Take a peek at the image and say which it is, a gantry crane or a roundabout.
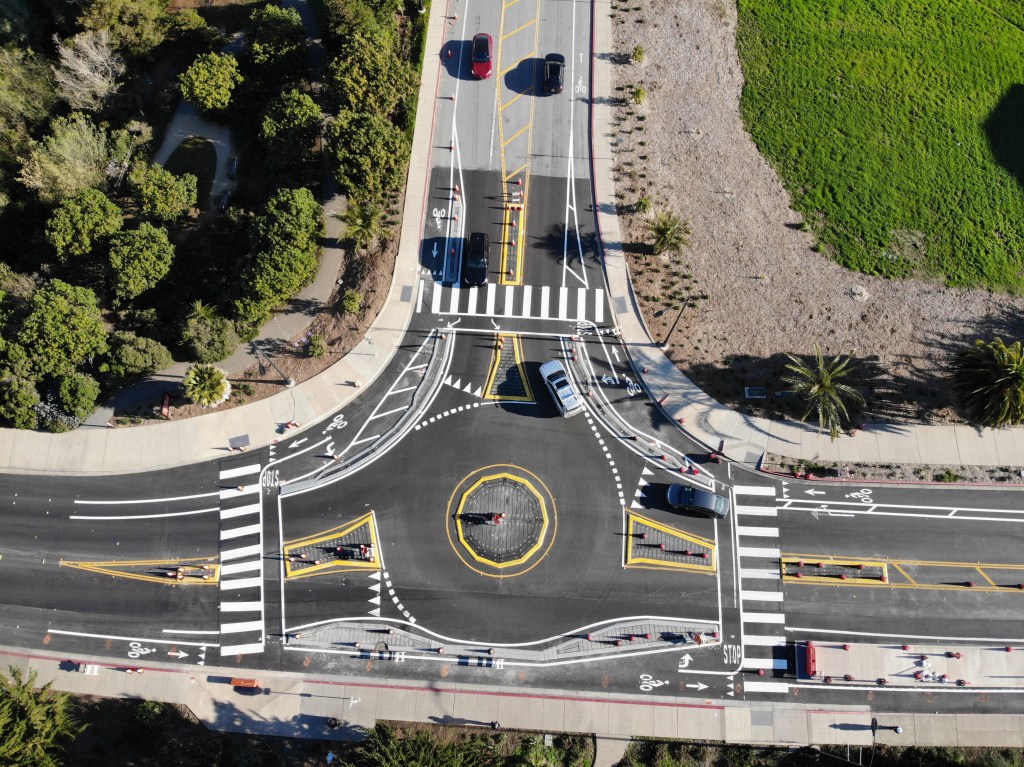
roundabout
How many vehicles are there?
5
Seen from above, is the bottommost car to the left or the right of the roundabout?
to the right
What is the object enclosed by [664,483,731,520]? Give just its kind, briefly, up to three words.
car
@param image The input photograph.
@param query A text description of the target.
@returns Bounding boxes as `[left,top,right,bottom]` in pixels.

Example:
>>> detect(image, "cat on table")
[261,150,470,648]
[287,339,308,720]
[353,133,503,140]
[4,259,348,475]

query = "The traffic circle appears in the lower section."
[446,465,557,578]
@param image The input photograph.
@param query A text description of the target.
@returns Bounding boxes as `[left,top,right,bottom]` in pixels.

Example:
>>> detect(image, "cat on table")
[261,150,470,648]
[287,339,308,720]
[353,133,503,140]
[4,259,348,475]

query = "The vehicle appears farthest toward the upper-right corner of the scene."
[542,55,566,97]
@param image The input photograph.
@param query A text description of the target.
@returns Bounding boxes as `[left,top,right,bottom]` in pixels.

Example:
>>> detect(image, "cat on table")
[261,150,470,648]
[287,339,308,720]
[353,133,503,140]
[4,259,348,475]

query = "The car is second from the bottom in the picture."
[539,360,584,420]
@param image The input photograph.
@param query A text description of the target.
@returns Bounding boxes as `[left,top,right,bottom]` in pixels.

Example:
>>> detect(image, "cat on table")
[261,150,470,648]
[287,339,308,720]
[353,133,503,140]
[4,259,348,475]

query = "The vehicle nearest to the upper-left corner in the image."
[469,35,493,80]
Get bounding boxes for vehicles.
[469,35,493,80]
[664,483,731,520]
[542,55,566,97]
[464,233,492,287]
[539,360,584,420]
